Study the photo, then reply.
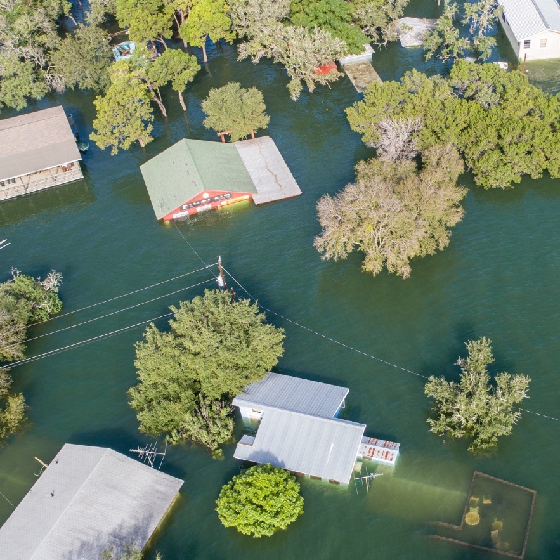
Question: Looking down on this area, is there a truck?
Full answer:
No, there is no truck in the image.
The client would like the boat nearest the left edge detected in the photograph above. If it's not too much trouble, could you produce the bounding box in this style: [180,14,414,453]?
[75,136,90,152]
